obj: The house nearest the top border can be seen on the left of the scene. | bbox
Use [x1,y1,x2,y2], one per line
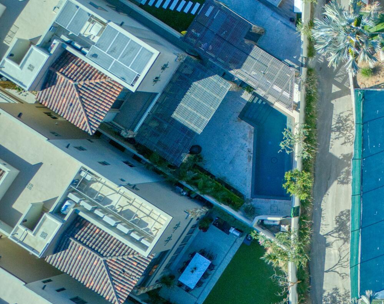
[0,0,217,144]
